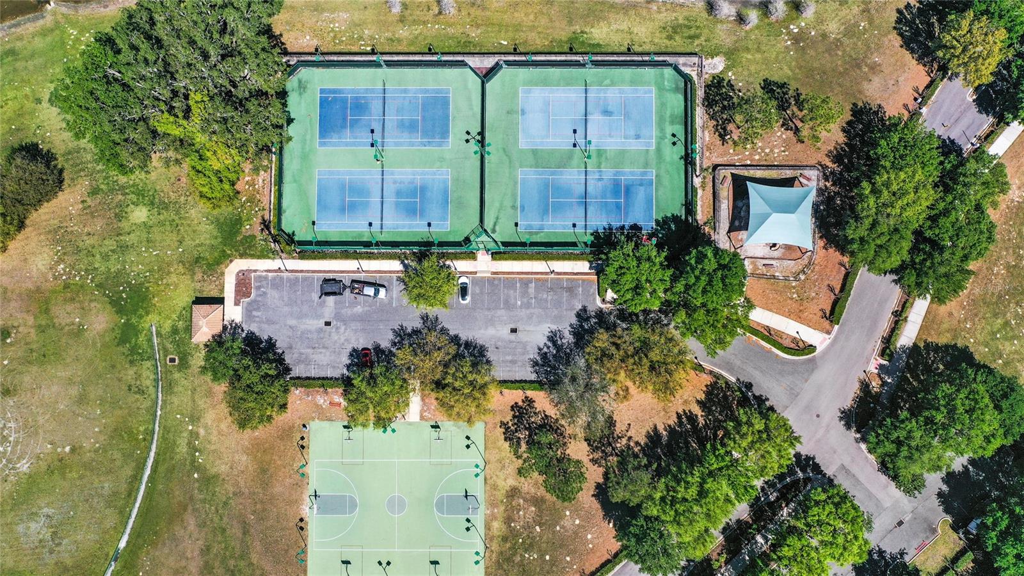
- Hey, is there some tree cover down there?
Yes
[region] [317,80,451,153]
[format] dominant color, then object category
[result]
blue tennis court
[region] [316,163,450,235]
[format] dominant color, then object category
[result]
blue tennis court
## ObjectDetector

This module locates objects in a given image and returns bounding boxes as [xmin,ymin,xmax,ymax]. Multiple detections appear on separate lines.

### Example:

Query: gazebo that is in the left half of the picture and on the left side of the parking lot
[191,304,229,342]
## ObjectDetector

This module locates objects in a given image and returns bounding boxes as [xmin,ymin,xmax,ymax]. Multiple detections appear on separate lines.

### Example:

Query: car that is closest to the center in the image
[457,276,470,303]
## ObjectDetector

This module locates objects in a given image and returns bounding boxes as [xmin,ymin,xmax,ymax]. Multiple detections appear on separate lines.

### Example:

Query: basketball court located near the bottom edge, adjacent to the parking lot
[308,422,486,576]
